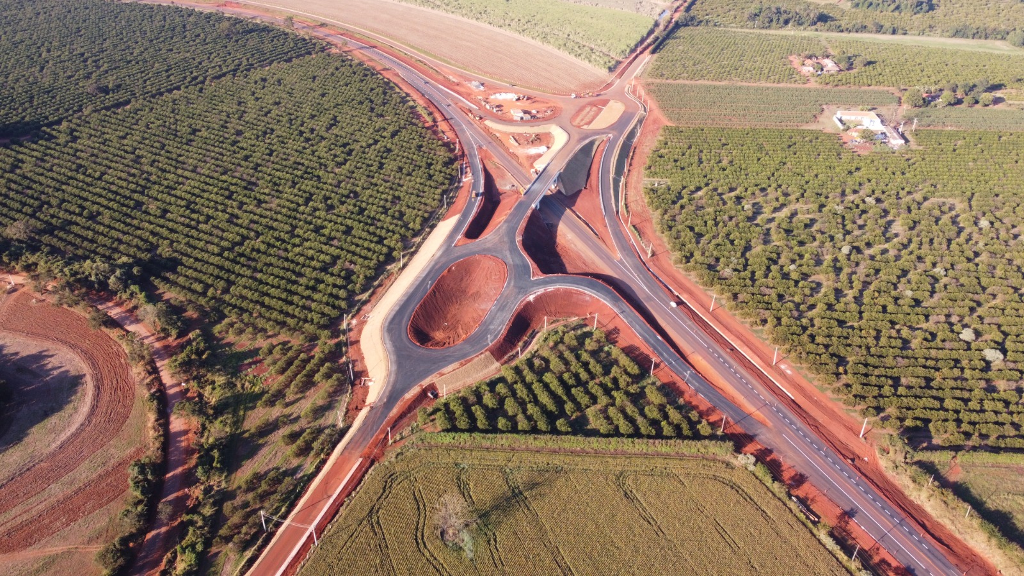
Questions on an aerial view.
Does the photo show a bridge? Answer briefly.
Yes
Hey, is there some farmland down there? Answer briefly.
Yes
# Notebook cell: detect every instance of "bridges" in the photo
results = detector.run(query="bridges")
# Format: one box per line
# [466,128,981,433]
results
[523,157,560,207]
